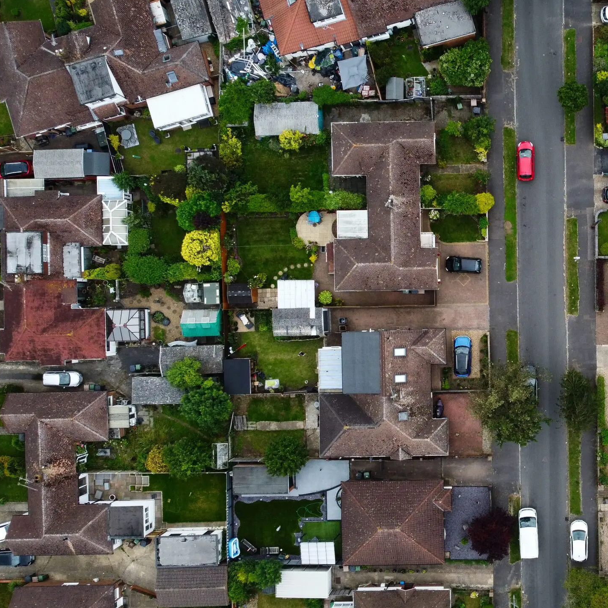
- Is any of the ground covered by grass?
Yes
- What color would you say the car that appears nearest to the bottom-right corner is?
white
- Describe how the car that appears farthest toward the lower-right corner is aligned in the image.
up and down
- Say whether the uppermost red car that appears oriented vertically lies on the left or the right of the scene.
right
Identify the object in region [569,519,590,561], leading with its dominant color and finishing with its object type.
white car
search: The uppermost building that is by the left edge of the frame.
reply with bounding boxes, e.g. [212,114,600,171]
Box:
[0,0,221,139]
